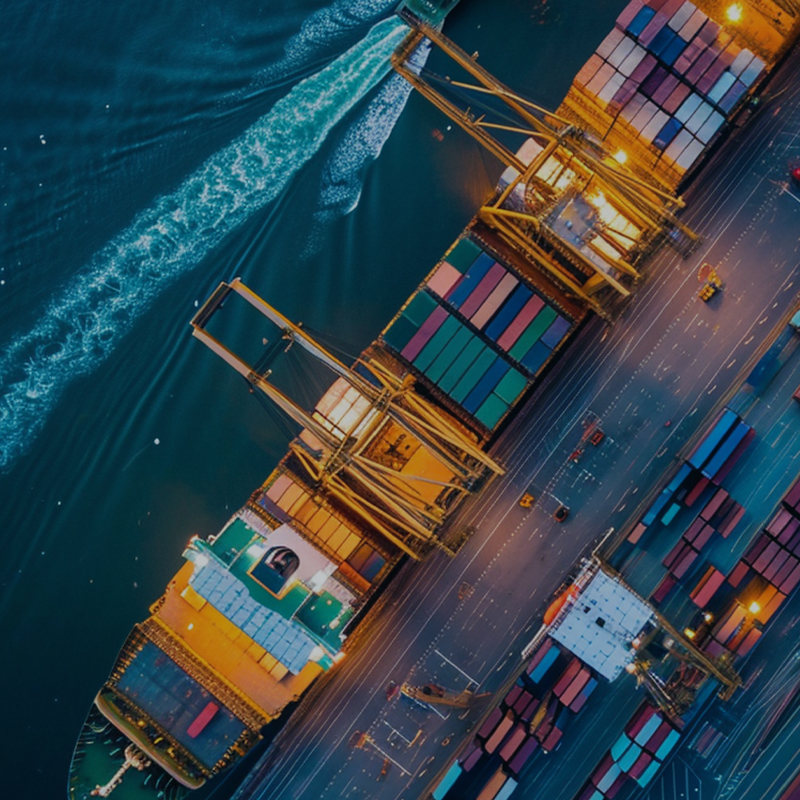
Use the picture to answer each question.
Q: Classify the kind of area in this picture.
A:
port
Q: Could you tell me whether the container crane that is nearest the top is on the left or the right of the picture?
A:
right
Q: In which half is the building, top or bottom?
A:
bottom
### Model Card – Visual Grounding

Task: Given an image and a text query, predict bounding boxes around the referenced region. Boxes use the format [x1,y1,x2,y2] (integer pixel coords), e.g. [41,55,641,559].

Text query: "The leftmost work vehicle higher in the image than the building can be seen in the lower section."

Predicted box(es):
[521,487,534,509]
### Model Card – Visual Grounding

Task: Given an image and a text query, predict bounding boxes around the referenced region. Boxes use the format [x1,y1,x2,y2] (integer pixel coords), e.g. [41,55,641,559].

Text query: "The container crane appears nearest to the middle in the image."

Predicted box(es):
[188,276,511,573]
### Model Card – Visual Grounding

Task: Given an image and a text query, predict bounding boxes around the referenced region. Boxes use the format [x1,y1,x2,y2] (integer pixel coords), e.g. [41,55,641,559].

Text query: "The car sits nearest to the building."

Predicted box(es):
[552,504,570,526]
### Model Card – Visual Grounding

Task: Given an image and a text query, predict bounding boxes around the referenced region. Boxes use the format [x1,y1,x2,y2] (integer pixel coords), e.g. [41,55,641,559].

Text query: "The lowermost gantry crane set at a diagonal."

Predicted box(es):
[588,543,744,735]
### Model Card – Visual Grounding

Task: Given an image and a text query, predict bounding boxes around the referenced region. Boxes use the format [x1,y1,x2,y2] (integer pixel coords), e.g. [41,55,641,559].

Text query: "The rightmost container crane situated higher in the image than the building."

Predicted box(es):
[388,21,696,344]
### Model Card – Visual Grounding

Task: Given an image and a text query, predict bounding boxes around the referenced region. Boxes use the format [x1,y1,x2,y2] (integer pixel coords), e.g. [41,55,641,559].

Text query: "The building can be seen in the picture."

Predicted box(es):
[528,523,655,683]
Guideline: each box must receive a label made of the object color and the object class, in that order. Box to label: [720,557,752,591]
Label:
red shipping container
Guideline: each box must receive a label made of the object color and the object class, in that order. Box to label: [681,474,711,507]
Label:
red shipping container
